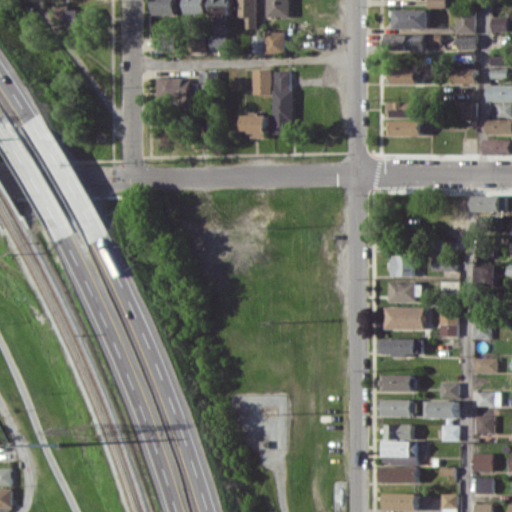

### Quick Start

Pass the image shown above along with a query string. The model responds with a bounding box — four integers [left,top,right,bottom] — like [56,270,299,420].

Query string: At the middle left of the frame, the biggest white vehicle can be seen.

[98,240,122,280]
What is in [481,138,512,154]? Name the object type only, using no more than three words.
house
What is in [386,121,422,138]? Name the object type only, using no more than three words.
house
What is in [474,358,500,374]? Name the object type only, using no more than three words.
building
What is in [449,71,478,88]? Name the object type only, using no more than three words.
building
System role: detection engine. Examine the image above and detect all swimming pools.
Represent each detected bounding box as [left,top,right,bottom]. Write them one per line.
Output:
[476,342,491,356]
